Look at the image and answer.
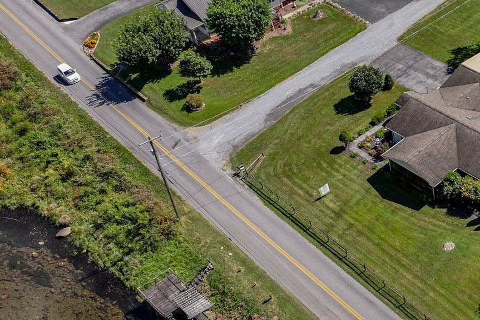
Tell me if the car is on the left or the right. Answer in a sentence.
You can find the car on the left side of the picture.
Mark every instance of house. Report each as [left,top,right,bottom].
[162,0,289,51]
[381,54,480,198]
